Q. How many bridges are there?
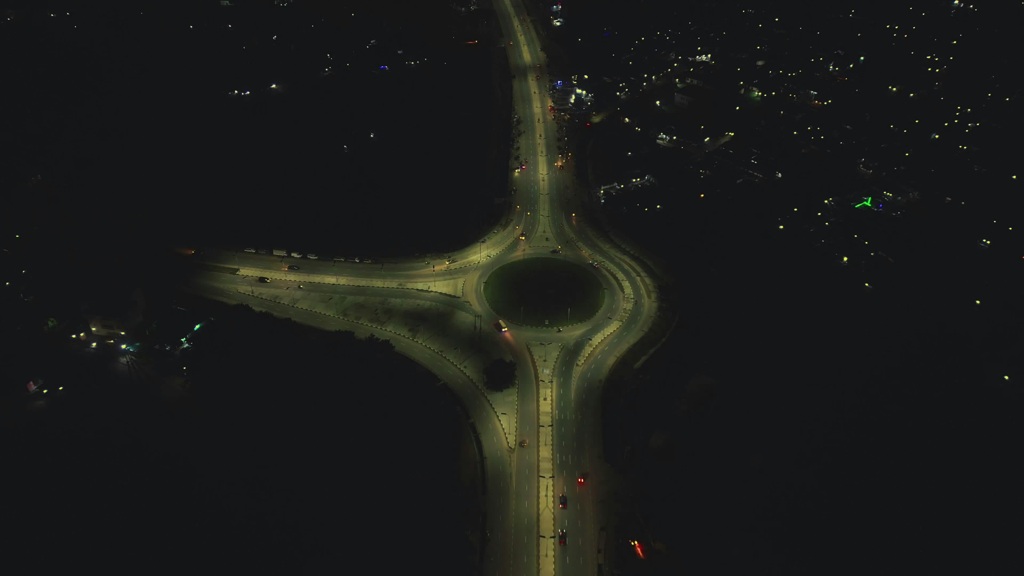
0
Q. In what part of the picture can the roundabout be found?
center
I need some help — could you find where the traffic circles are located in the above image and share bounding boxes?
[459,245,626,343]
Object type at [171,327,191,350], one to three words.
house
